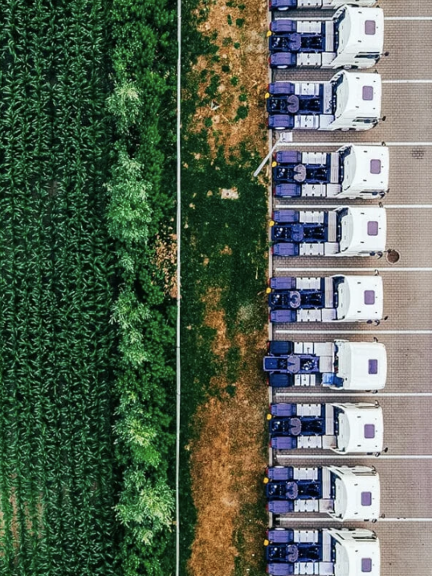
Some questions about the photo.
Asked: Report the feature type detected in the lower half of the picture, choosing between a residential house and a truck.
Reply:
truck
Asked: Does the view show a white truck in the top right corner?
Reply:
Yes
